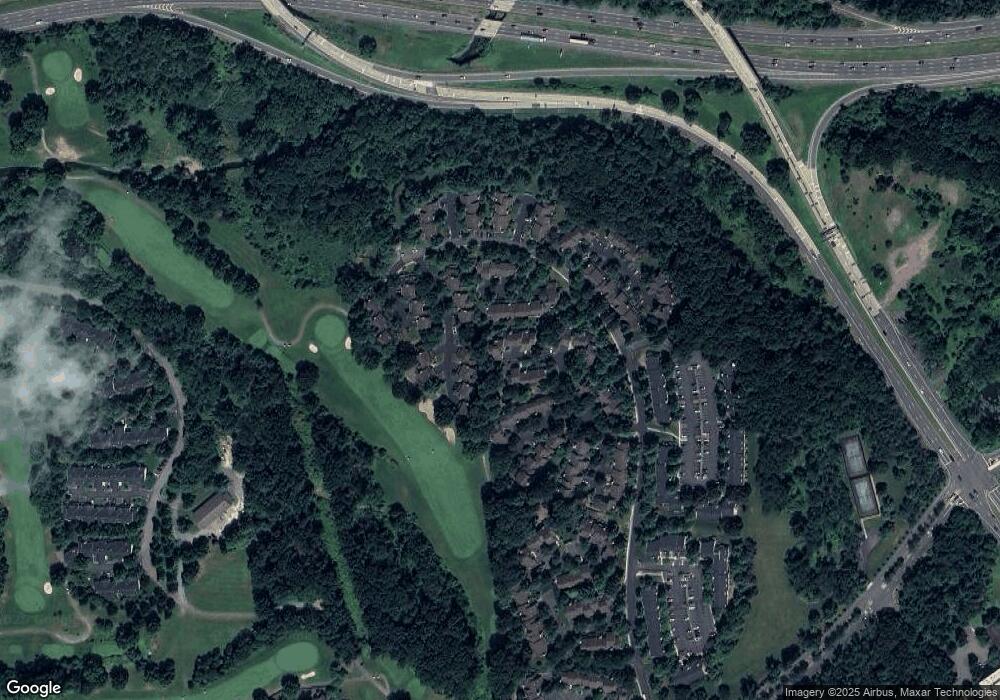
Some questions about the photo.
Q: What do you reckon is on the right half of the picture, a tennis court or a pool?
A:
tennis court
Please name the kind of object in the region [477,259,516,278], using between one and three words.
house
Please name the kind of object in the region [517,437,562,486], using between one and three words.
house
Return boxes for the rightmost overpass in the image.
[686,0,834,228]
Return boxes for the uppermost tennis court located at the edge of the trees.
[841,435,868,478]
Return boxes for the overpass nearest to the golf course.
[262,0,339,58]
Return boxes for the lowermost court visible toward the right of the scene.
[851,474,879,518]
